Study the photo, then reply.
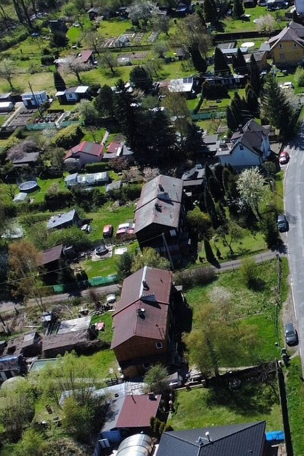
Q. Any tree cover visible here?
Yes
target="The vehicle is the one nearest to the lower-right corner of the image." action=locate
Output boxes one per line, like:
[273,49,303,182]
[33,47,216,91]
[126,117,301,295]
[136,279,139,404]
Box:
[283,321,298,346]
